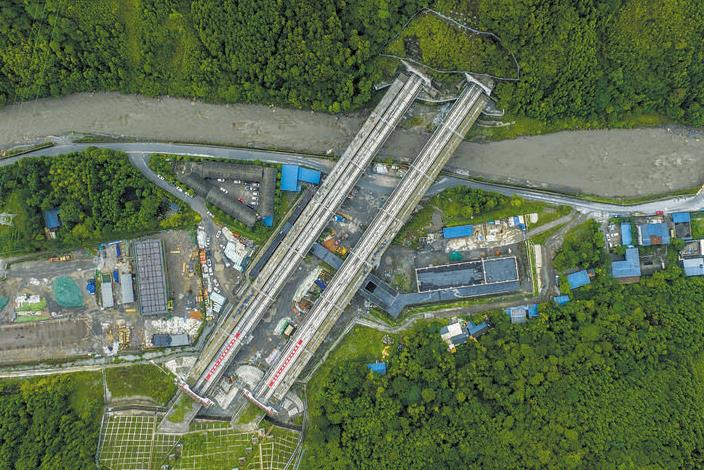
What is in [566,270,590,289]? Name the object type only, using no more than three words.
house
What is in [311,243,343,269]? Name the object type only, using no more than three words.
shed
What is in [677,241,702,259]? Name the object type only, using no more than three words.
house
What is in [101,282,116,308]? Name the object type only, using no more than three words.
building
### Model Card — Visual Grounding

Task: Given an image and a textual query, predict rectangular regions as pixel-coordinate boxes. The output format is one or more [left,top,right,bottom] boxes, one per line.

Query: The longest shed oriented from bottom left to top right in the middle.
[250,187,317,278]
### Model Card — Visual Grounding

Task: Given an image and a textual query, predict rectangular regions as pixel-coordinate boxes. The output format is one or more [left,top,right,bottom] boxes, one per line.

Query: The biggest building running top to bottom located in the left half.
[134,238,170,316]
